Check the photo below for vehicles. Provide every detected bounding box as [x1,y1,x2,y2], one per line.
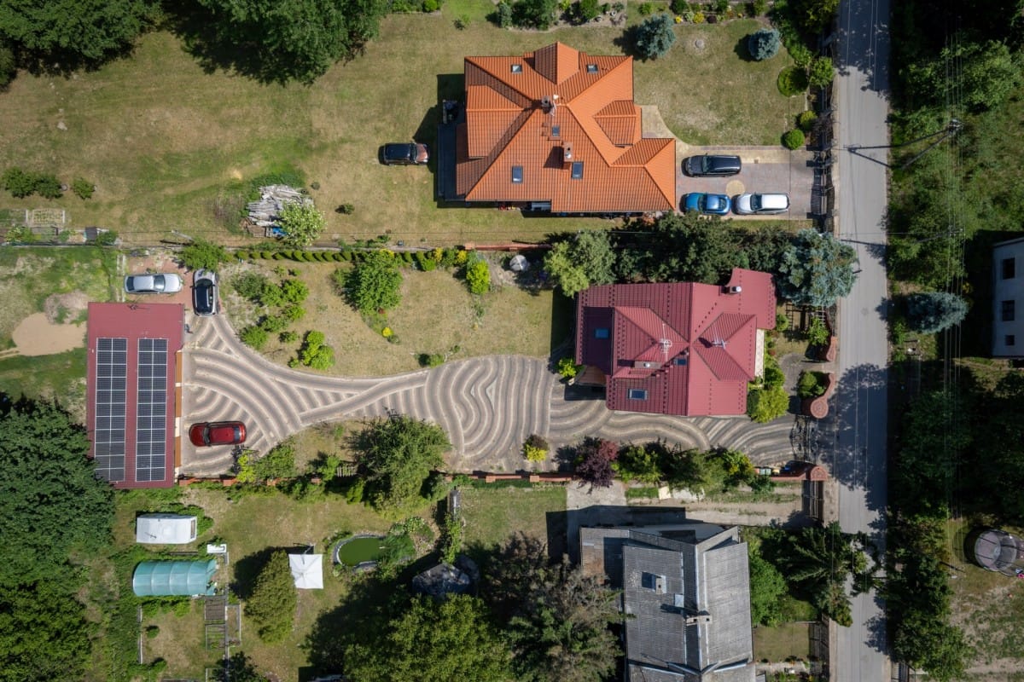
[682,151,741,178]
[733,191,790,216]
[192,269,220,317]
[125,269,185,295]
[381,140,429,166]
[192,421,248,447]
[682,191,731,216]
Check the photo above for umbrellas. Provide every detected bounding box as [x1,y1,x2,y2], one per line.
[289,541,324,589]
[509,255,527,273]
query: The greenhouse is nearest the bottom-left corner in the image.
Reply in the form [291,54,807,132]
[127,557,224,597]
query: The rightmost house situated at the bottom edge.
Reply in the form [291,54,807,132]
[580,517,752,682]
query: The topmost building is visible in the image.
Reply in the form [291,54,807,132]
[456,41,677,213]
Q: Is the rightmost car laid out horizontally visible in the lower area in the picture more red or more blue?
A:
red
